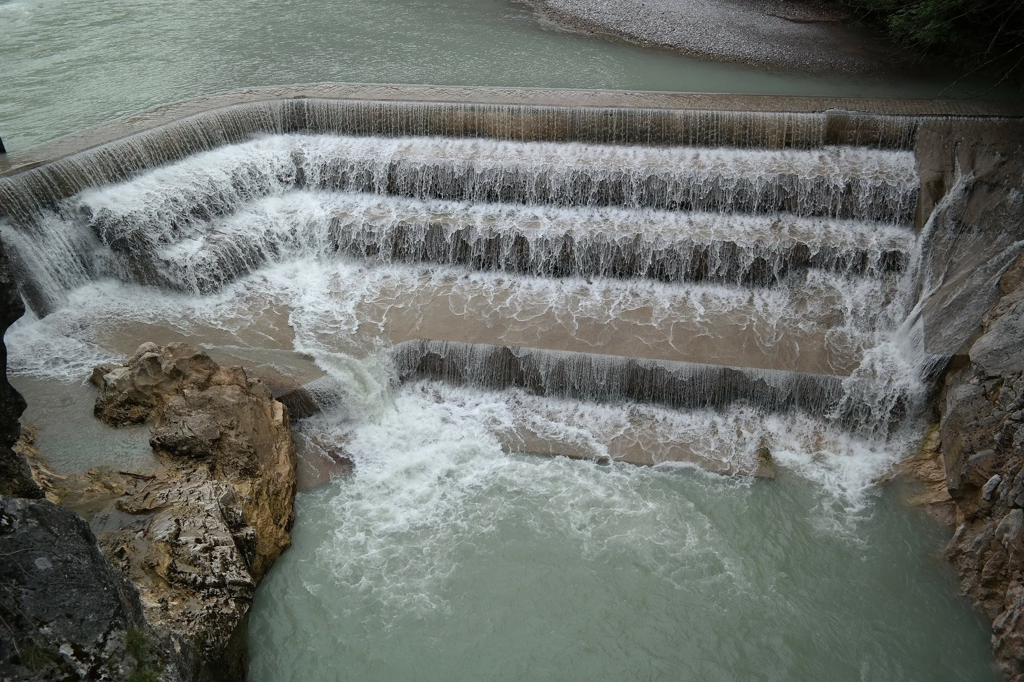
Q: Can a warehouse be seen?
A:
No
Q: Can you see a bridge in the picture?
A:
No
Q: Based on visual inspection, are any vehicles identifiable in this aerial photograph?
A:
No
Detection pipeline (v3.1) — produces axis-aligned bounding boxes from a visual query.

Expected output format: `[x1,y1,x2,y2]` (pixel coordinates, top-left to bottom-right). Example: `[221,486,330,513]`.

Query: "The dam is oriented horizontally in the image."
[0,83,1024,483]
